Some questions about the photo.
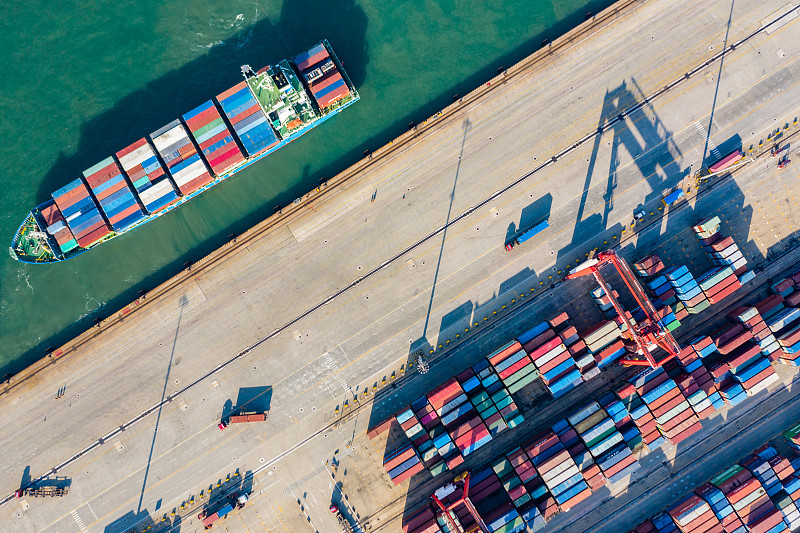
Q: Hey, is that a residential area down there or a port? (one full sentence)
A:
The picture captures a port.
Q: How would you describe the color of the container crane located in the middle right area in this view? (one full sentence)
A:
From above, the container crane located in the middle right area appears red.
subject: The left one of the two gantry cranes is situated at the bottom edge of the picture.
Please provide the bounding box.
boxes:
[425,467,498,533]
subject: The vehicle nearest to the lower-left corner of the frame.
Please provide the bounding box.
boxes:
[15,486,67,499]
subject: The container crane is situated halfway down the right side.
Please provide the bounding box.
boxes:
[556,251,684,370]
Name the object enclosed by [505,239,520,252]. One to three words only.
vehicle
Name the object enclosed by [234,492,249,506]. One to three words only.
vehicle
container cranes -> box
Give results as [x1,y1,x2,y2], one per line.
[425,467,498,533]
[556,251,684,370]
